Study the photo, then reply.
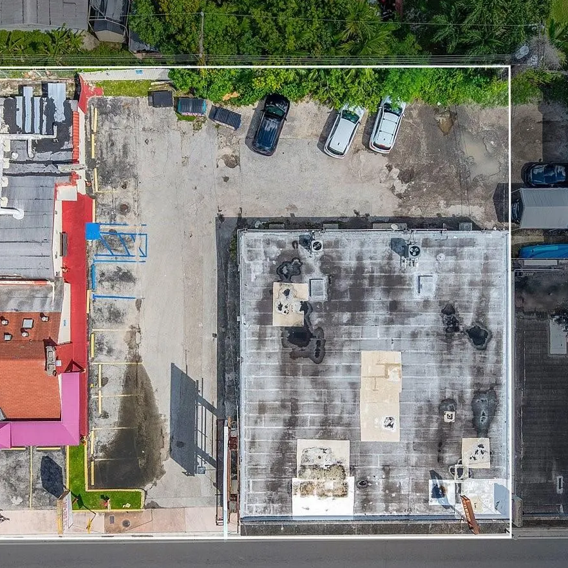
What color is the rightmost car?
black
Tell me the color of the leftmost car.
black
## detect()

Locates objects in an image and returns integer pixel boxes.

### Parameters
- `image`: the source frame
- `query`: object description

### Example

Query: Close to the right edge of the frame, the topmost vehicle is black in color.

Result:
[521,159,568,188]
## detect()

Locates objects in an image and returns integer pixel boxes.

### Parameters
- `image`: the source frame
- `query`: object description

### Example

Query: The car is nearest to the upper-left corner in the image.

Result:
[254,99,290,160]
